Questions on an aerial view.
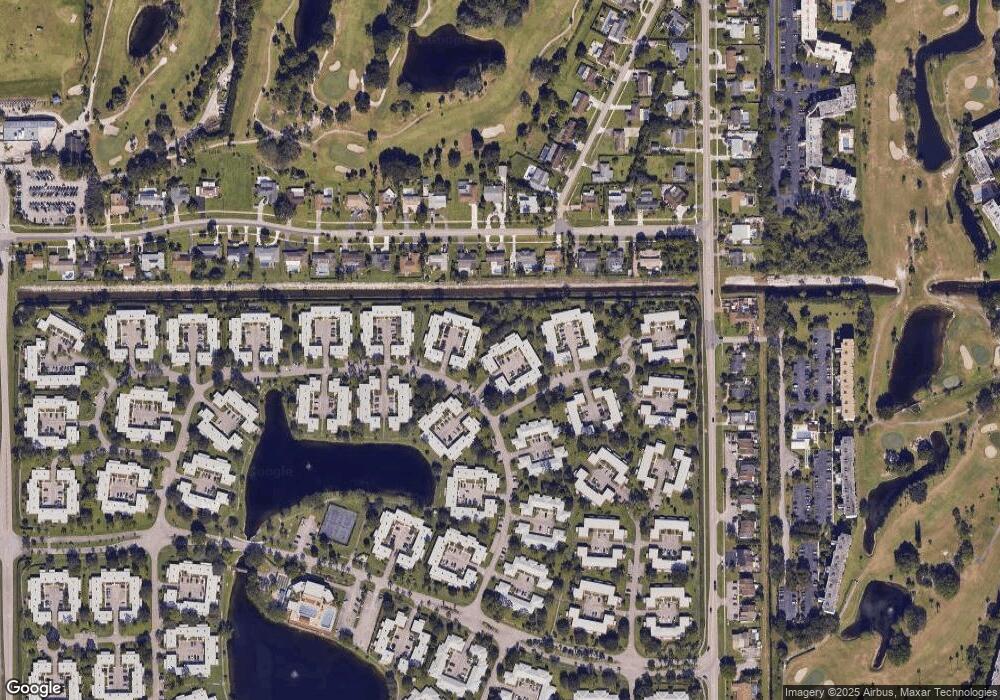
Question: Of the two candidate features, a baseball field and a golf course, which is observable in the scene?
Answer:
golf course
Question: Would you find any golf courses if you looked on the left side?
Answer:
Yes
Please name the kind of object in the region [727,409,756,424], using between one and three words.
house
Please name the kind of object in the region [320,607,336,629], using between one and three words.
swimming pool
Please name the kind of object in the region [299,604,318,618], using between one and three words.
swimming pool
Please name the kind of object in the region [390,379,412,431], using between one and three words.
building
